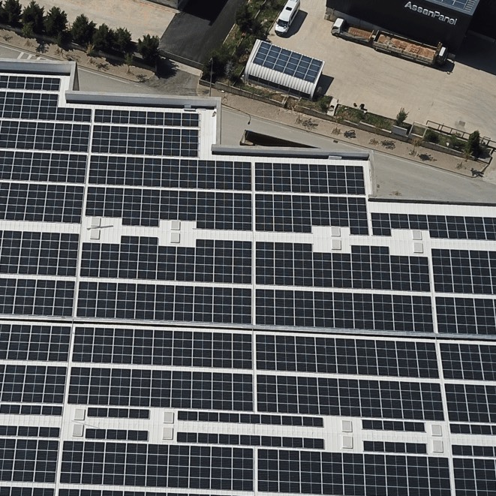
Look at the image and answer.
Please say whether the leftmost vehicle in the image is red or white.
white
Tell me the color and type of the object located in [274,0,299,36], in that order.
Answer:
white vehicle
